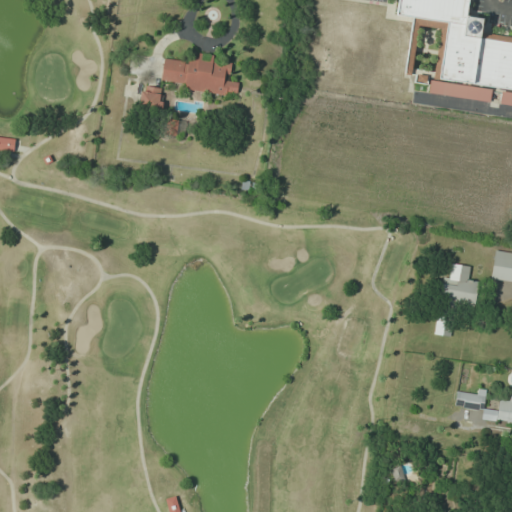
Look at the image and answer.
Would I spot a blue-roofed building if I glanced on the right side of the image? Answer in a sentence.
No, there's no blue-roofed building to be seen on the right side of the image.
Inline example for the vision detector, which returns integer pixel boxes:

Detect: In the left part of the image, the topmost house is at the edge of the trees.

[162,52,240,96]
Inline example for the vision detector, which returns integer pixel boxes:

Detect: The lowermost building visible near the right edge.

[456,388,512,422]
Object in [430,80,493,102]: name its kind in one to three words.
building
